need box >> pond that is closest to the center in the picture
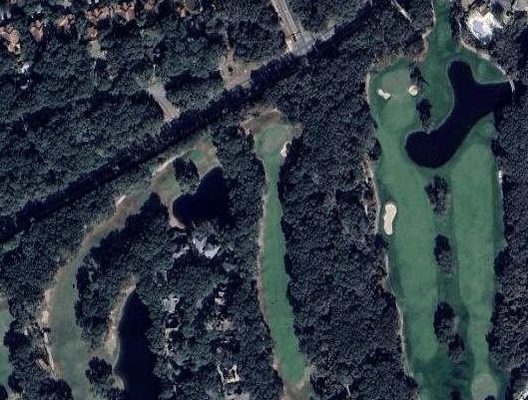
[174,167,228,225]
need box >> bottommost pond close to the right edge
[407,60,512,167]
